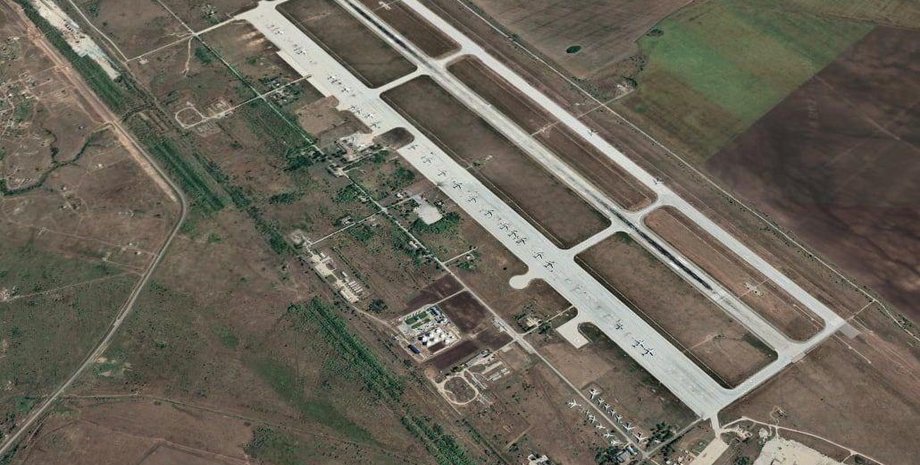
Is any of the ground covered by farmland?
Yes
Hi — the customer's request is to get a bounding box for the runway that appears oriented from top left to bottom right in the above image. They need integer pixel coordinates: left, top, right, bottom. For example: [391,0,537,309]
[336,0,788,349]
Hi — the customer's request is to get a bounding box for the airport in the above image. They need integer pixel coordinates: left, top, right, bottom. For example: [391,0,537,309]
[236,0,861,426]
